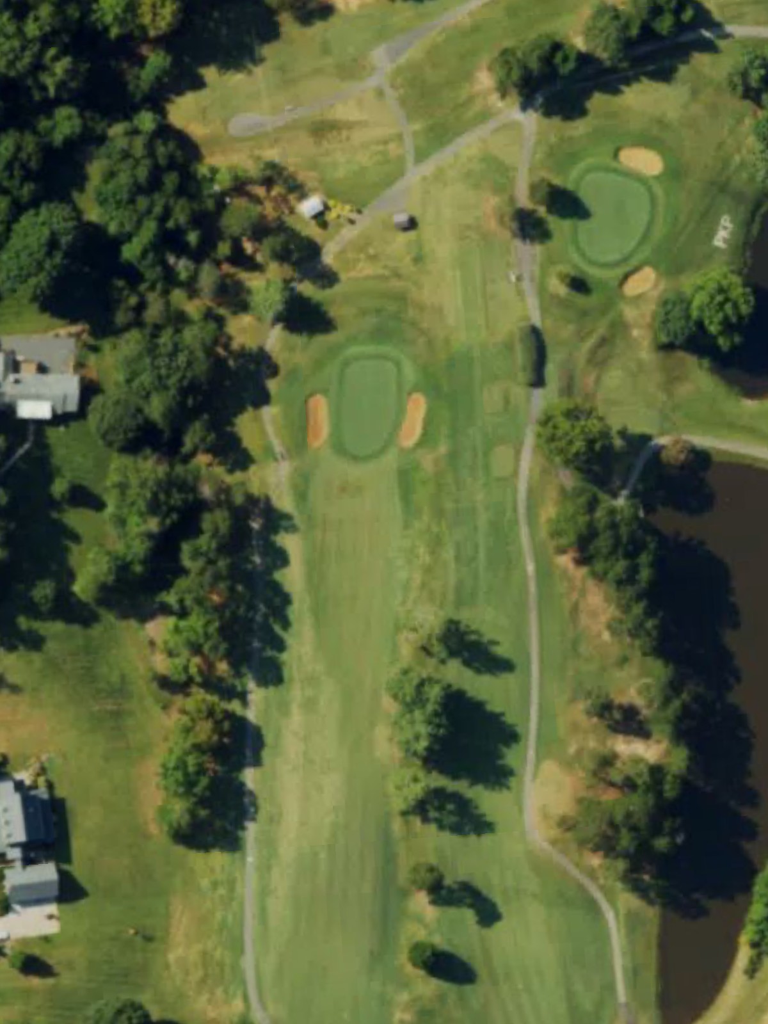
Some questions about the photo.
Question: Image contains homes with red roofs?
No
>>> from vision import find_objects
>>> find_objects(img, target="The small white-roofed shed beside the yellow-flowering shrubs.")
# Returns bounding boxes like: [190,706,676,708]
[298,193,326,219]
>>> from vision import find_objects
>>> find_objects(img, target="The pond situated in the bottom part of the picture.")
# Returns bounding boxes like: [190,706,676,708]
[644,463,768,1024]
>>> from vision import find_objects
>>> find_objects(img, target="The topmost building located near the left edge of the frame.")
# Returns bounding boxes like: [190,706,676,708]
[0,350,80,419]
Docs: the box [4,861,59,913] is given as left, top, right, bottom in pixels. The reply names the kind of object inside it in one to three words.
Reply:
building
